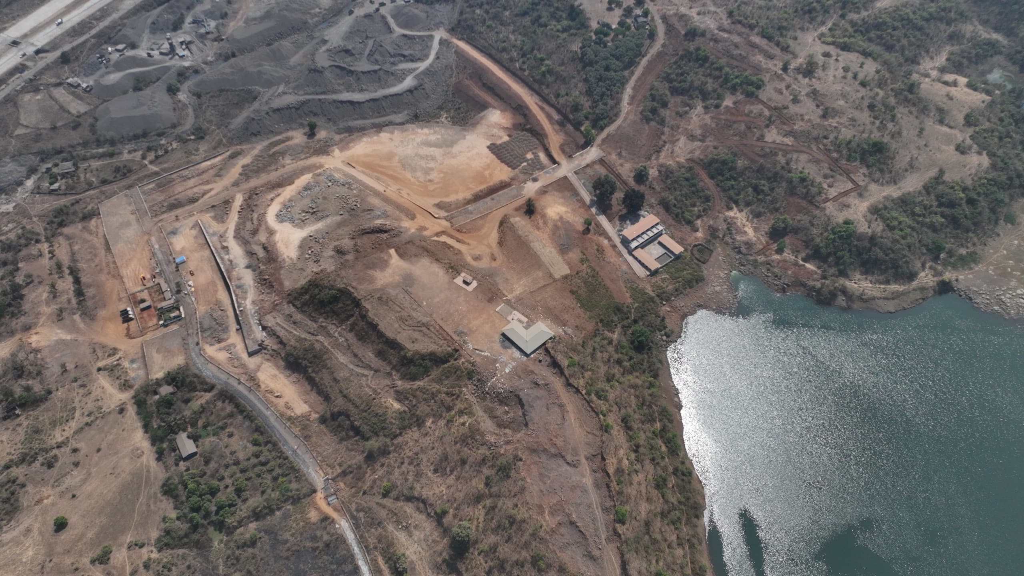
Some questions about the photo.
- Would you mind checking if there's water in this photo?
Yes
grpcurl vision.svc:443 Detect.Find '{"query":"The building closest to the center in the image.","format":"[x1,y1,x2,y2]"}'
[504,321,555,357]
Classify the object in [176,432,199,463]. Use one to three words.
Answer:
house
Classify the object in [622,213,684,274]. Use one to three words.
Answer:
house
